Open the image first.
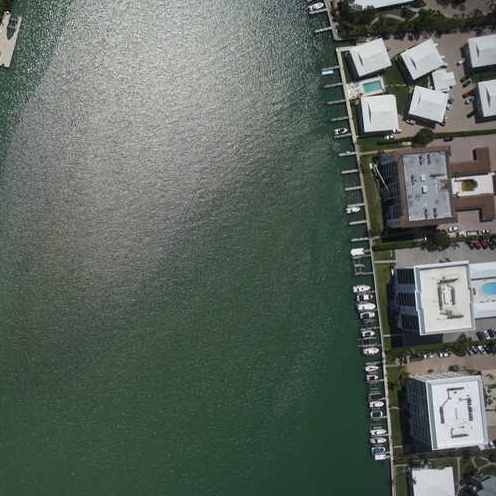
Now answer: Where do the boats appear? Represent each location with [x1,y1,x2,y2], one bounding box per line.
[370,446,386,453]
[356,294,373,300]
[351,285,371,292]
[318,69,334,75]
[368,401,384,407]
[359,312,375,319]
[307,3,324,10]
[360,330,375,338]
[368,429,387,435]
[369,411,383,418]
[364,366,379,371]
[373,454,390,461]
[356,303,376,310]
[364,375,379,380]
[362,348,379,355]
[368,438,386,444]
[345,207,360,212]
[332,127,349,134]
[349,248,364,255]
